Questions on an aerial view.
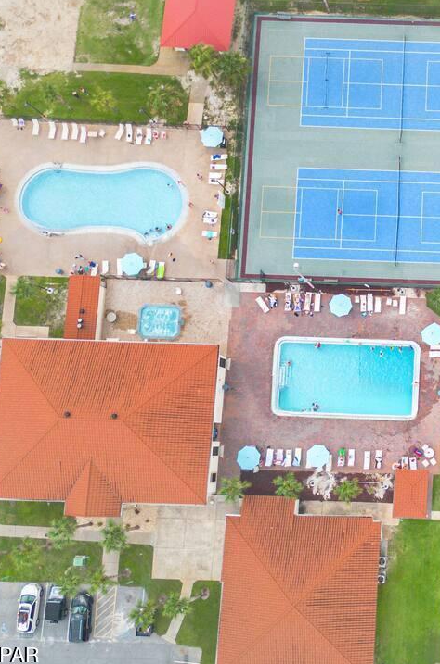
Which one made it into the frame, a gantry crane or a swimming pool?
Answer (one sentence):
Of the two, only a swimming pool appears.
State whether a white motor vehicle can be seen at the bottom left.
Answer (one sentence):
Yes, at the bottom left there is a white motor vehicle.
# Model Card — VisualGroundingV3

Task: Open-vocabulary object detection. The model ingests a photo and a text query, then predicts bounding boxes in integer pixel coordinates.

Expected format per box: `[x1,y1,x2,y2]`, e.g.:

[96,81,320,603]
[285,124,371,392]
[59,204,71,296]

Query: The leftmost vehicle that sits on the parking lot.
[15,582,46,635]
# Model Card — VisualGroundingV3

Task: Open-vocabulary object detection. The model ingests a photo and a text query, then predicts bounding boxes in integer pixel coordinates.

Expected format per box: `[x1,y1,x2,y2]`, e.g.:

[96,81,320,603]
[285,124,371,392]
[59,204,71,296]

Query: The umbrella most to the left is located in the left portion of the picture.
[120,252,143,276]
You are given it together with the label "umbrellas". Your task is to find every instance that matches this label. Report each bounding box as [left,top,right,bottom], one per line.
[120,252,143,276]
[202,124,225,146]
[236,444,260,469]
[329,293,352,315]
[420,321,440,344]
[306,444,330,468]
